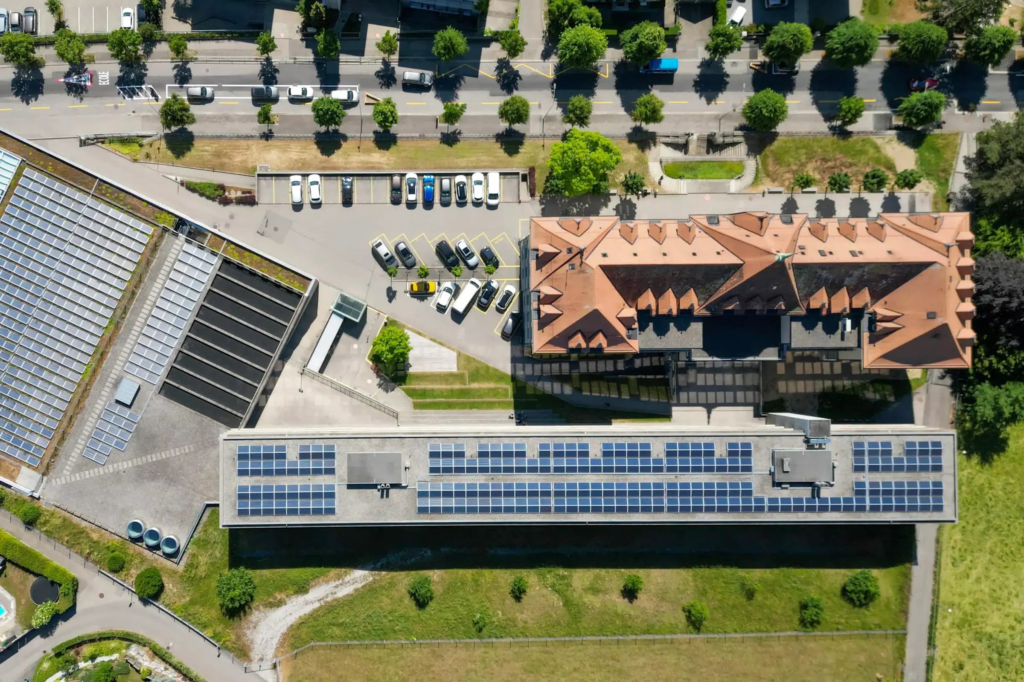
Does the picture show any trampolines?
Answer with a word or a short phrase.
Yes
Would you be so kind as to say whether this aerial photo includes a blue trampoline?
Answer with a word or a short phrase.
No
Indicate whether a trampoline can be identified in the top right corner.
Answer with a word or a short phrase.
No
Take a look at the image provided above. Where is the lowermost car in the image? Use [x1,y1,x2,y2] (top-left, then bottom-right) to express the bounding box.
[501,311,522,341]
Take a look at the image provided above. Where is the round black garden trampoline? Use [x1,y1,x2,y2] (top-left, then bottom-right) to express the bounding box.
[30,577,60,606]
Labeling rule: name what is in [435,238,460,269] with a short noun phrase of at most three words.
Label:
car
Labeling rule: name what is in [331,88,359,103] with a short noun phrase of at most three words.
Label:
car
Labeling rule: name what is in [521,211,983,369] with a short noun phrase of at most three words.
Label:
building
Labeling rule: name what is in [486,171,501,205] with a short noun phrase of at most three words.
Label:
vehicle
